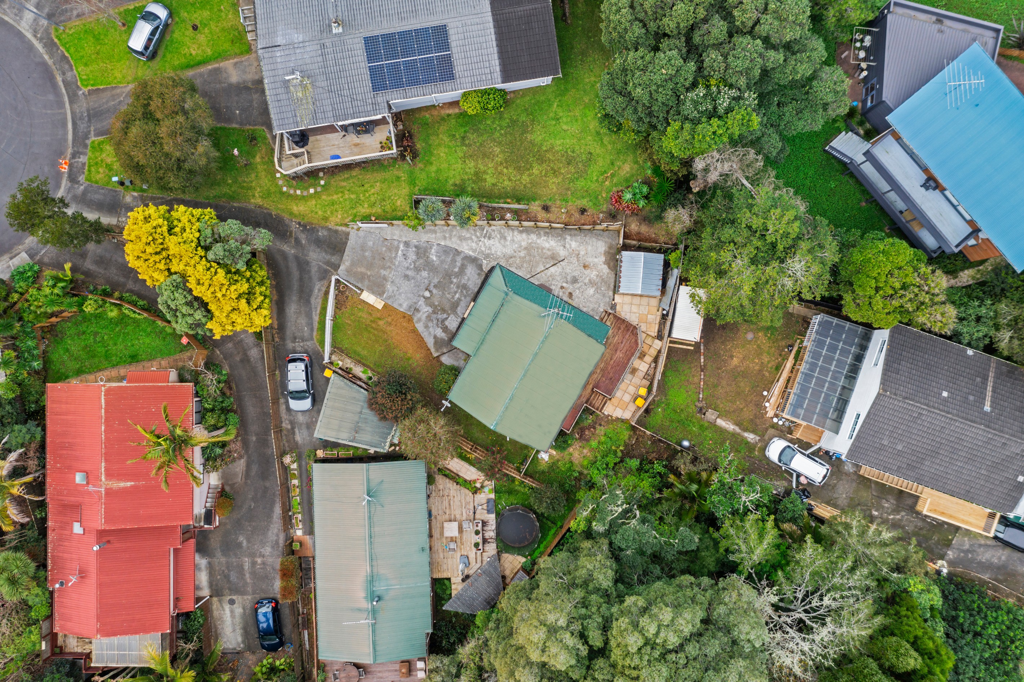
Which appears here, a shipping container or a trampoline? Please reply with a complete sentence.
The one in the frame is a trampoline.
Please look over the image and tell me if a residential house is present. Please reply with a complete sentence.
Yes, this view includes a residential house.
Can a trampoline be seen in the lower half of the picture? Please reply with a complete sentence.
Yes, the scene does show a trampoline in the lower half of the picture.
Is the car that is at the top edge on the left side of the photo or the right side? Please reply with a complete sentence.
You can find the car that is at the top edge on the left side of the picture.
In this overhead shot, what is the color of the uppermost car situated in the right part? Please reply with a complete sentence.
The uppermost car situated in the right part is white.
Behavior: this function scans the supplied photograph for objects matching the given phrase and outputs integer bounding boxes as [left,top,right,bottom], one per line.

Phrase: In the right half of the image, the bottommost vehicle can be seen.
[999,524,1024,555]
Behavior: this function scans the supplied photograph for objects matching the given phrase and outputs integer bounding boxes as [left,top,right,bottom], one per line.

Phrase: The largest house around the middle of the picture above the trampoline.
[447,264,611,451]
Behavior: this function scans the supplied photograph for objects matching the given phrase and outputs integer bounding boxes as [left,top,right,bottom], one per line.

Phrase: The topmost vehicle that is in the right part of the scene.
[765,440,831,486]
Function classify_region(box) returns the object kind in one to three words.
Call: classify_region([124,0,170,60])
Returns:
car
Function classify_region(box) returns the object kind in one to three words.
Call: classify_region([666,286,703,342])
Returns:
shed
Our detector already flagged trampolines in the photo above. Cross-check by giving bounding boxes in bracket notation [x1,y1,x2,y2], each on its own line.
[495,504,544,565]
